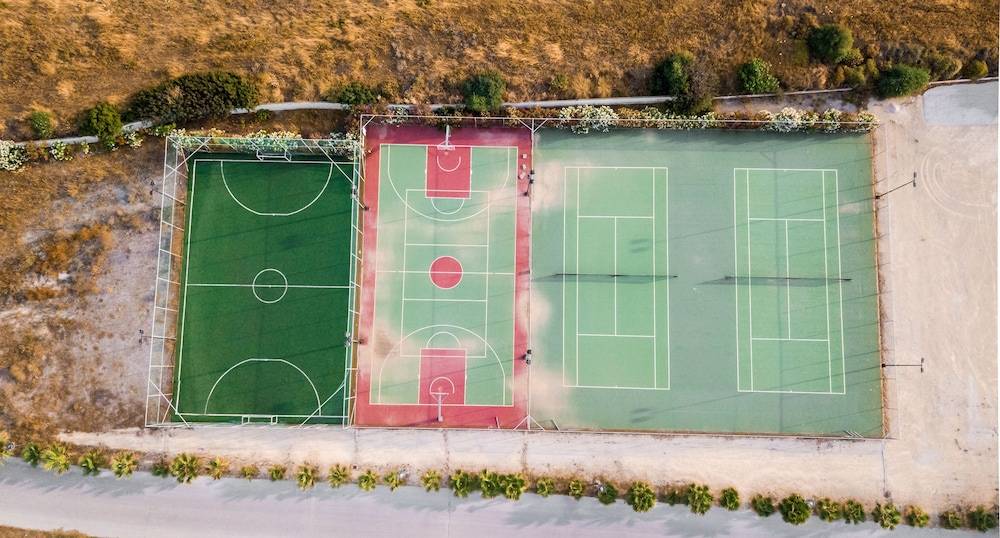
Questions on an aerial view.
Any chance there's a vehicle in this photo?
No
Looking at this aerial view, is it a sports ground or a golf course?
sports ground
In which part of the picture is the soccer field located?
left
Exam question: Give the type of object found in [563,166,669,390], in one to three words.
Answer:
tennis court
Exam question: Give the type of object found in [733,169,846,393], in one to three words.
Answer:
tennis court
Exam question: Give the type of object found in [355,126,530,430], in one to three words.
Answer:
basketball court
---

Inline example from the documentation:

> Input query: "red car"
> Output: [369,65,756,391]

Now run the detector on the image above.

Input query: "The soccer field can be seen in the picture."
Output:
[171,153,361,424]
